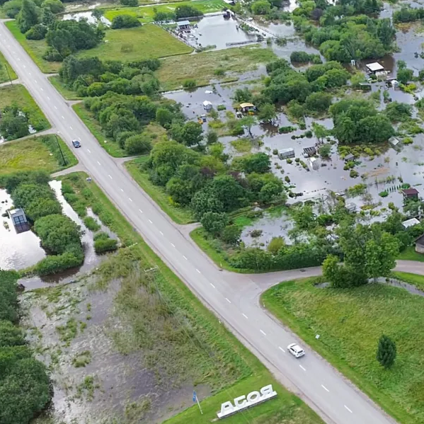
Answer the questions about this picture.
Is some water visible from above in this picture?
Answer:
Yes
